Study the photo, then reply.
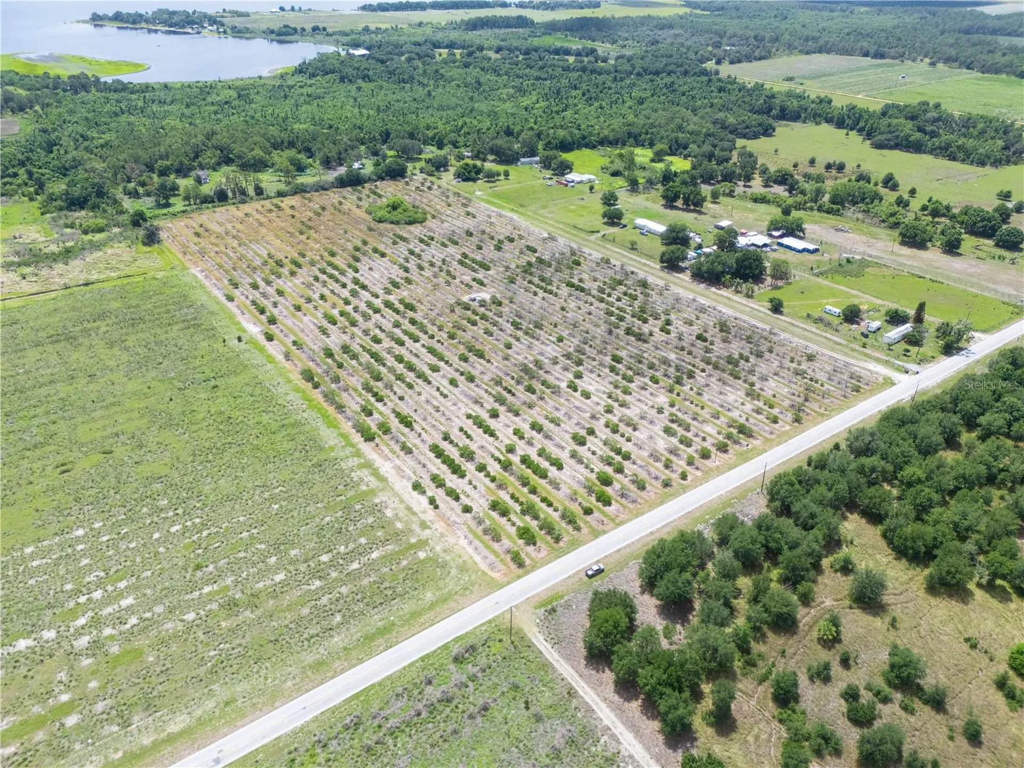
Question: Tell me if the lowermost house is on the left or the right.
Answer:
right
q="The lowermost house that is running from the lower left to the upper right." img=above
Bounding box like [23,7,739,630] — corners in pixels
[883,320,917,344]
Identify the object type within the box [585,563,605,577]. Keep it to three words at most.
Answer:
vehicle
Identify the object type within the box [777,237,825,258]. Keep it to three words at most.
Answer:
house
